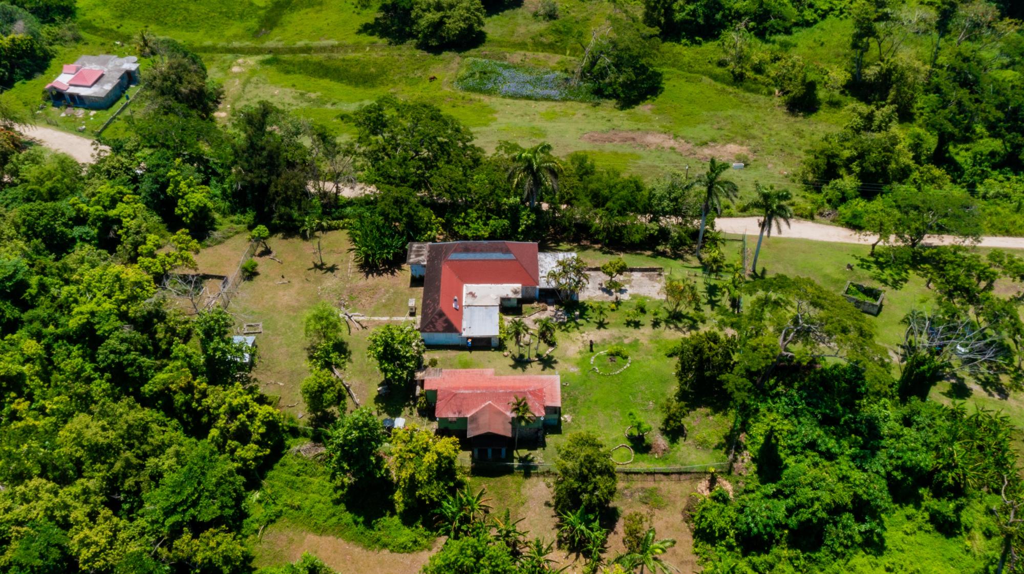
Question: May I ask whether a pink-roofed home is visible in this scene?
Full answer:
Yes, the photo shows a pink-roofed home.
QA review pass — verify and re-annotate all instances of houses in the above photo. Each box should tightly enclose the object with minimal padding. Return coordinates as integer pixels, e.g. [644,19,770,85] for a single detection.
[45,55,143,113]
[416,367,562,460]
[407,240,577,353]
